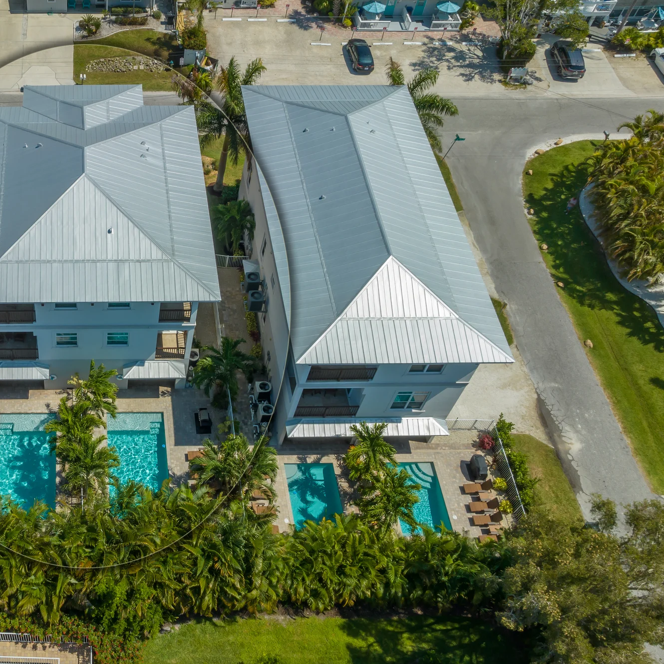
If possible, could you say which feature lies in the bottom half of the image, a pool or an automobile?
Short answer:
pool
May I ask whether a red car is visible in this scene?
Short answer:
No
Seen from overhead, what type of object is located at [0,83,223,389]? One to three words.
house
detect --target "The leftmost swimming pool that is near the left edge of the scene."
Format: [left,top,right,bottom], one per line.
[0,408,59,522]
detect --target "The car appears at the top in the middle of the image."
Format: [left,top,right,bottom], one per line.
[347,37,378,69]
